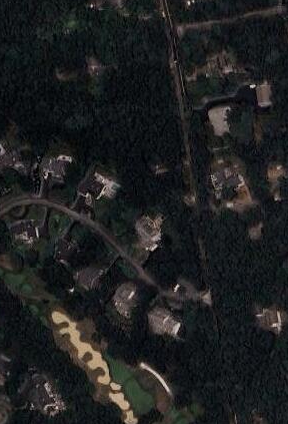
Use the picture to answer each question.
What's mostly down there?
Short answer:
trees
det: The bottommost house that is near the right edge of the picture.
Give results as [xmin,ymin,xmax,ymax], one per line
[257,307,285,327]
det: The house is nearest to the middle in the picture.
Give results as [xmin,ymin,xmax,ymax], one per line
[137,214,162,249]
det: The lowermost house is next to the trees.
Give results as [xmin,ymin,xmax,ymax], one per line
[24,370,62,417]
